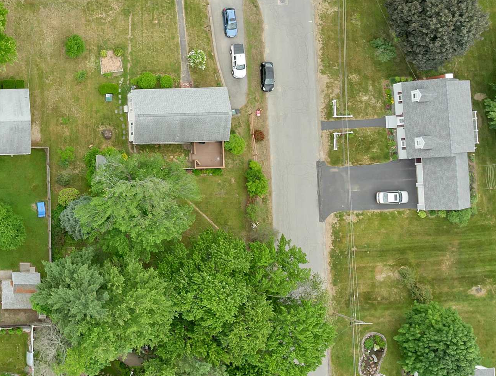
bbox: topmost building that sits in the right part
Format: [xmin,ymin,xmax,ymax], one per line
[384,73,480,210]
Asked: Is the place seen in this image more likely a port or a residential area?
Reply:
residential area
